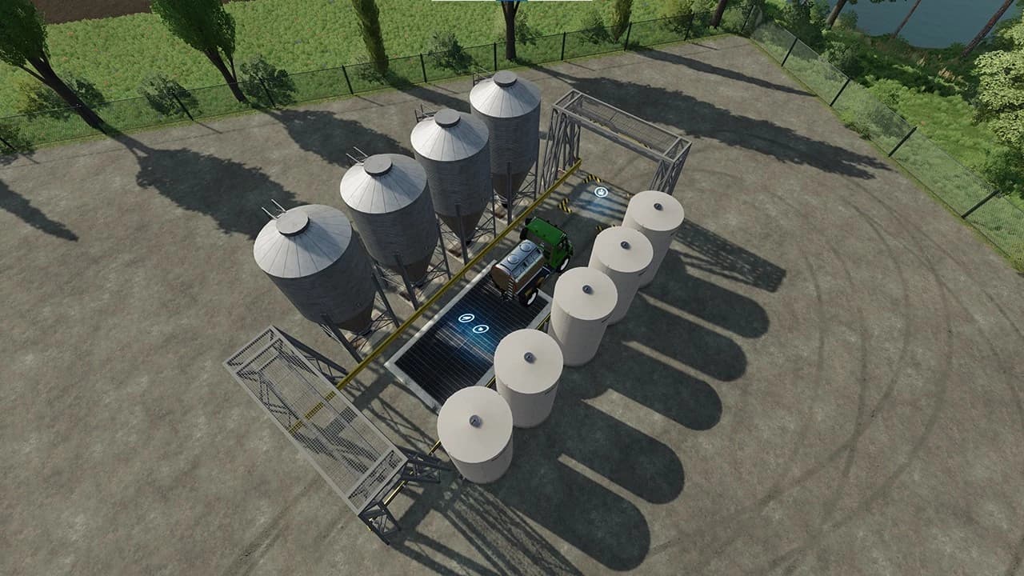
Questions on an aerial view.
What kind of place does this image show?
industrial area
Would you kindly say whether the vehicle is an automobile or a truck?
truck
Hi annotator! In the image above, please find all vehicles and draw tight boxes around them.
[486,214,575,309]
